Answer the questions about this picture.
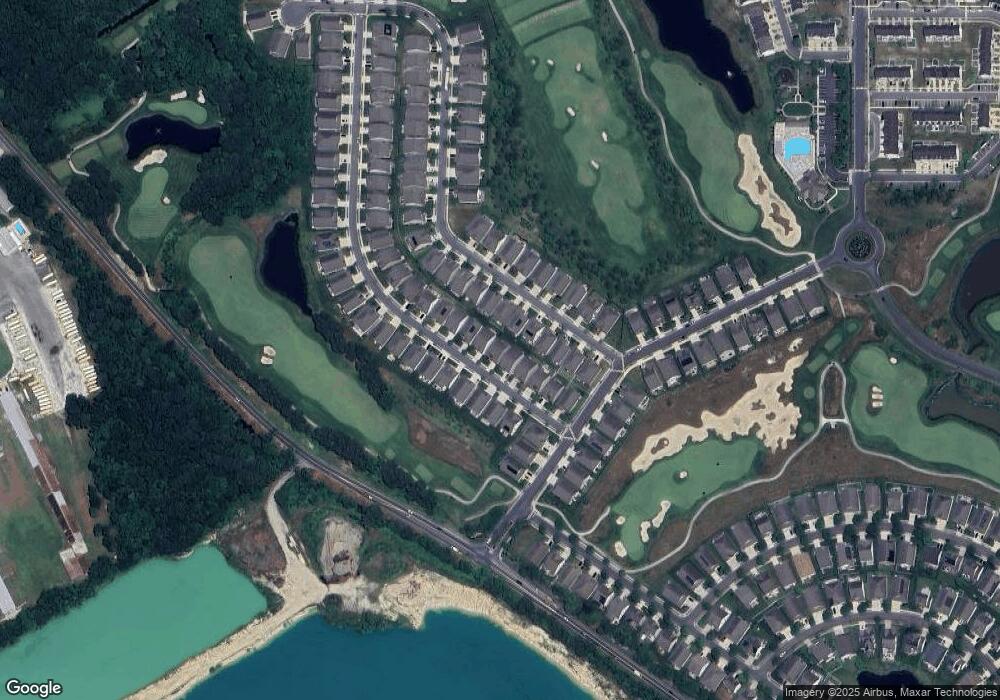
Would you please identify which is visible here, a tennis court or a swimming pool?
swimming pool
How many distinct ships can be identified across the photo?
0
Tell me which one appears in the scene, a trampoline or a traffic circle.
traffic circle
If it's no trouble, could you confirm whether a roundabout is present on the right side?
Yes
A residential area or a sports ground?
residential area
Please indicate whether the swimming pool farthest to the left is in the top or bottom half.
top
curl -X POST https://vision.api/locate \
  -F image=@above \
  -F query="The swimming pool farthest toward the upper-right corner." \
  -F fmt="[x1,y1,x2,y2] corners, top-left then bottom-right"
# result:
[774,122,815,183]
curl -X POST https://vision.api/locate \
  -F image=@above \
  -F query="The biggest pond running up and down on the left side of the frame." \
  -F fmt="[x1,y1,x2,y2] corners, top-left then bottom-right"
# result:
[260,213,312,314]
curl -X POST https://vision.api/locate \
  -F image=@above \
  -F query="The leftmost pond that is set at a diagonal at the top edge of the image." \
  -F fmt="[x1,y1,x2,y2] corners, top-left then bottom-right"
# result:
[643,0,755,114]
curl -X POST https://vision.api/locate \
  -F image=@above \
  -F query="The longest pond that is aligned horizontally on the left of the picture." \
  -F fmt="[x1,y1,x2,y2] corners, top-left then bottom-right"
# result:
[126,114,222,160]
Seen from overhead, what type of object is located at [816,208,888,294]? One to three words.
roundabout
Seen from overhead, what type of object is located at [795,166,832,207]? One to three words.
building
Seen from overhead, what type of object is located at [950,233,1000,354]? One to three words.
pond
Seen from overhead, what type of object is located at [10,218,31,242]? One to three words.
swimming pool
